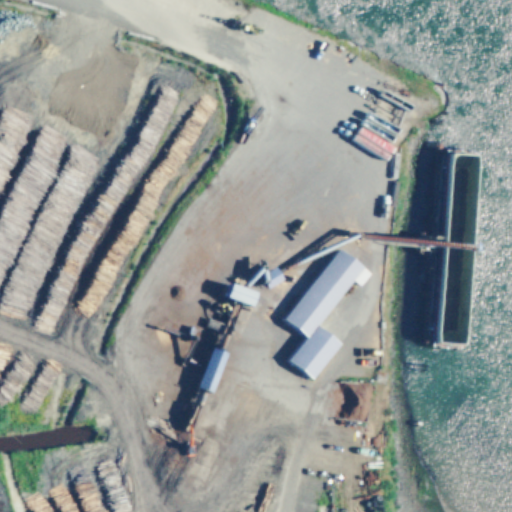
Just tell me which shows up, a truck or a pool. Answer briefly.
truck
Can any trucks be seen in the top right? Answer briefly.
Yes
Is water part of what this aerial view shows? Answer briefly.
Yes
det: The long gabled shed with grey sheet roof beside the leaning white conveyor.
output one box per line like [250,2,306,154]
[285,250,370,338]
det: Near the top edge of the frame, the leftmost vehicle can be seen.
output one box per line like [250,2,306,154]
[237,24,258,37]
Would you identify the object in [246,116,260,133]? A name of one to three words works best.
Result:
vehicle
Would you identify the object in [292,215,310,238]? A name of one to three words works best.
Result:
work vehicle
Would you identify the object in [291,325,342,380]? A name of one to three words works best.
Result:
shed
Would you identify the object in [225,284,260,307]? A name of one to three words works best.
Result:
house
